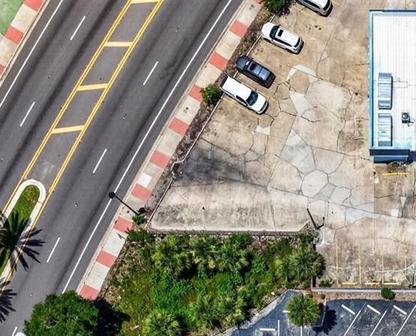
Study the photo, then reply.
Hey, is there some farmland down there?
No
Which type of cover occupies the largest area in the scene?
paved ground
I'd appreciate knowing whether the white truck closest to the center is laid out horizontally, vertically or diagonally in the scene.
diagonally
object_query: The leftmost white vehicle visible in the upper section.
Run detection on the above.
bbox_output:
[217,72,270,116]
